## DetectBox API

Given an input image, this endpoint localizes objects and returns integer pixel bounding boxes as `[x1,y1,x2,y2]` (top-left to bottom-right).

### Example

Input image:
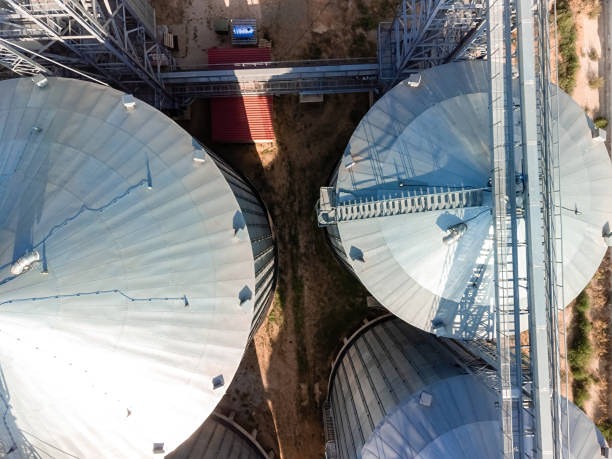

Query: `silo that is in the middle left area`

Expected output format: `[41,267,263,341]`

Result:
[0,78,278,459]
